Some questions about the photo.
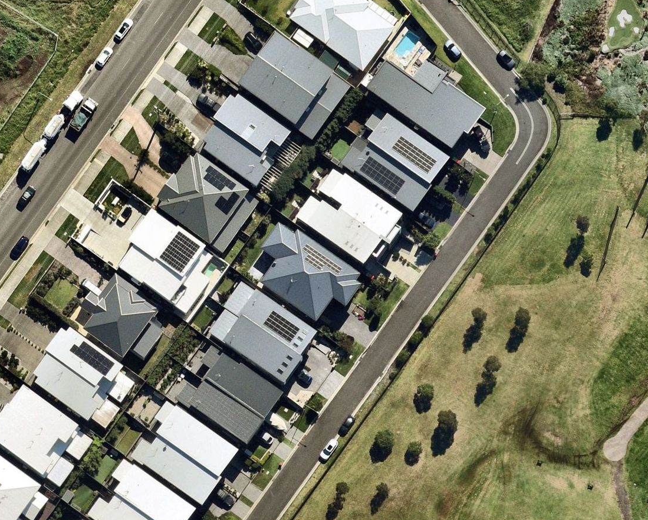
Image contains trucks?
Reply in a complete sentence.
Yes, looking at the shot, I can spot a truck.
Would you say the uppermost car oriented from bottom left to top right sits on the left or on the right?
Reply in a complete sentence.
The uppermost car oriented from bottom left to top right sits on the left side.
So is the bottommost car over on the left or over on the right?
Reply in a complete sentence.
It is on the left.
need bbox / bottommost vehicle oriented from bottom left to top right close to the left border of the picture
[9,235,30,261]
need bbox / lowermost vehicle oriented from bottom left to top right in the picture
[316,437,341,464]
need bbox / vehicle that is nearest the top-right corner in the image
[497,50,515,70]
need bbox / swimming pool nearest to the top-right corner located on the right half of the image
[391,29,422,60]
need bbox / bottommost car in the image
[216,488,236,508]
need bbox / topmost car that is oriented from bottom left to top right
[113,18,133,42]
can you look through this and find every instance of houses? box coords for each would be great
[260,222,362,321]
[360,61,485,148]
[175,345,284,445]
[81,273,164,361]
[239,31,351,141]
[296,169,404,264]
[0,384,93,487]
[130,401,238,506]
[202,94,291,187]
[157,154,259,251]
[290,0,397,72]
[118,208,213,313]
[0,456,49,520]
[341,111,450,211]
[209,281,317,383]
[33,326,135,428]
[87,458,197,520]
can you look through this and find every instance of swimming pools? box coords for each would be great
[391,29,422,60]
[203,261,219,280]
